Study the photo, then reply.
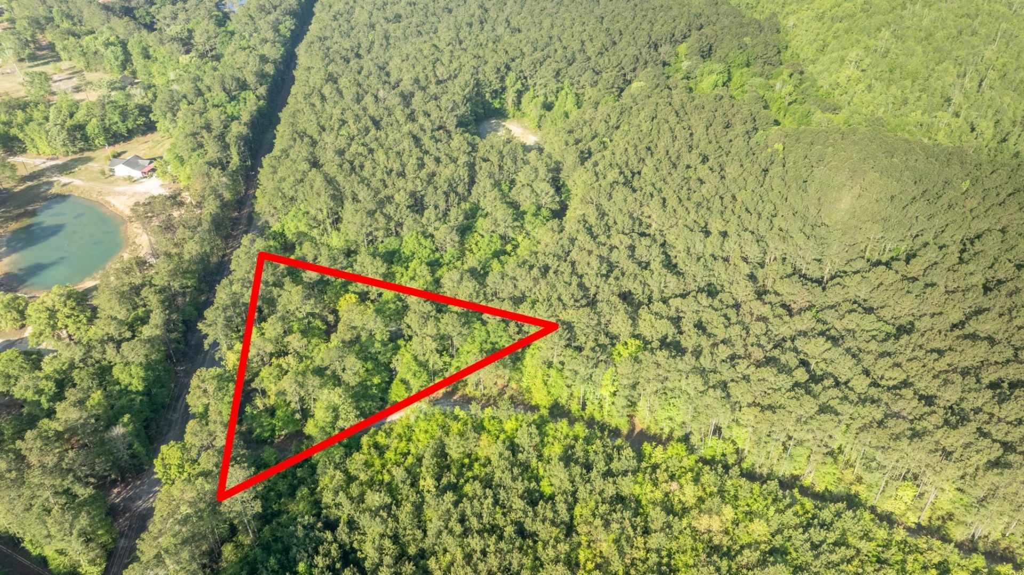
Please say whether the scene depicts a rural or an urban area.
rural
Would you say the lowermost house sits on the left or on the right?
left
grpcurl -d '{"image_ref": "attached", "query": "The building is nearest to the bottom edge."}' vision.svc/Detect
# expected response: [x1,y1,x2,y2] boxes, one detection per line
[110,148,165,177]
